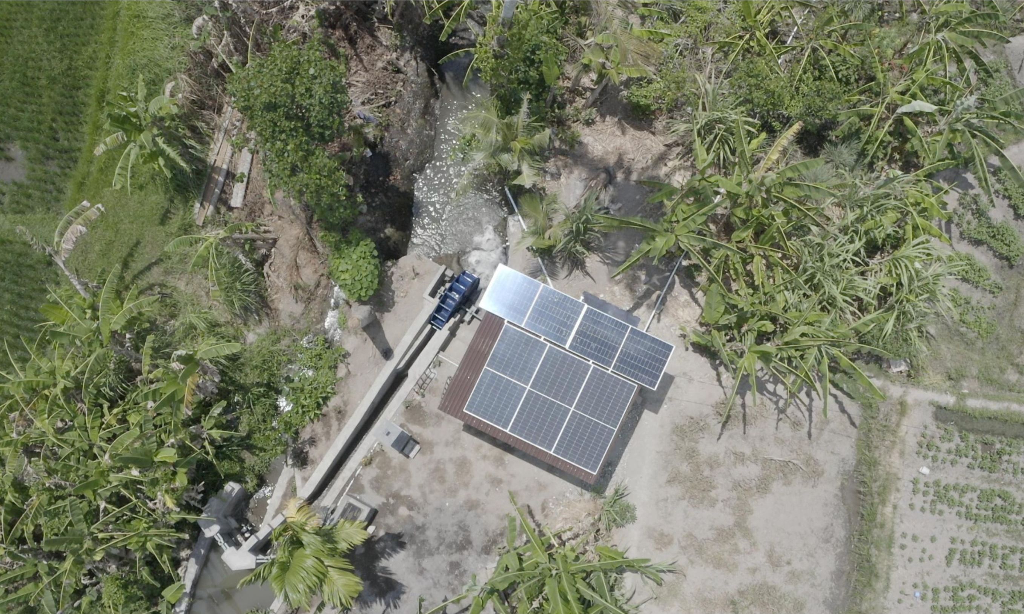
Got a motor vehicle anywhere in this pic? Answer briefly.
No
